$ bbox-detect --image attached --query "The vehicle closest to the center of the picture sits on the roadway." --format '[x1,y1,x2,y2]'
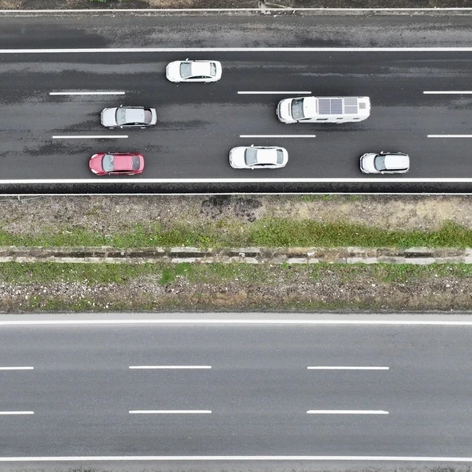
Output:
[227,143,289,170]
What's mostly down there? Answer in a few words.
paved ground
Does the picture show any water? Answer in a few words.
No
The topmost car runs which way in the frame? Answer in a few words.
from side to side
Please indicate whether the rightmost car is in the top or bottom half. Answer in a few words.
top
